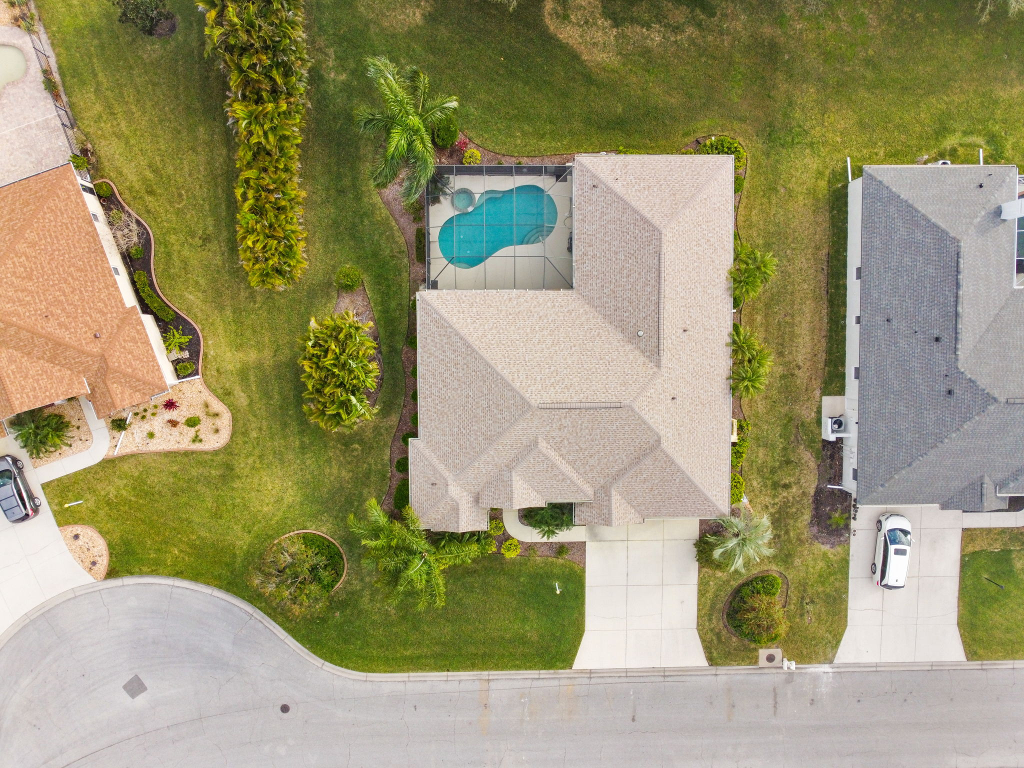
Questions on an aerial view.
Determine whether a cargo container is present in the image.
No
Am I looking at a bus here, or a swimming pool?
swimming pool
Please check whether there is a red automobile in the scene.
No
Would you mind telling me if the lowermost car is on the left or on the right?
right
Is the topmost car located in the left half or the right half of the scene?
left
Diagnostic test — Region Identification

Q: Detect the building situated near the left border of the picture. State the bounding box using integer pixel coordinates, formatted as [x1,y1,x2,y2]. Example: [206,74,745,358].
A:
[0,162,178,440]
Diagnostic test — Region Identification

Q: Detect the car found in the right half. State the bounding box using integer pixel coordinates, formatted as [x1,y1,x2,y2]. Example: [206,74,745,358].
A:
[871,511,915,588]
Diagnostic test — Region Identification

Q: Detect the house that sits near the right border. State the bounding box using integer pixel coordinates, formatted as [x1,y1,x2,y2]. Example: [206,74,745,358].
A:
[843,164,1024,511]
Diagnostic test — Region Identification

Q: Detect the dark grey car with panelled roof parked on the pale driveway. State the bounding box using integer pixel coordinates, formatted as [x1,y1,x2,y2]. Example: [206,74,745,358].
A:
[0,452,39,528]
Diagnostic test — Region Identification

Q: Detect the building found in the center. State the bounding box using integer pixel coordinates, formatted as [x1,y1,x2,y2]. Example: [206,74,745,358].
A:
[408,153,735,532]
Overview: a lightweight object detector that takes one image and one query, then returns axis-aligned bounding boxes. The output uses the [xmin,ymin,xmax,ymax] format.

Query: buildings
[408,153,735,532]
[843,164,1024,511]
[0,162,178,440]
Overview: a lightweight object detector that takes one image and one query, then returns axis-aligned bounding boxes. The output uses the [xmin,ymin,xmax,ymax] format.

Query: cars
[0,452,39,528]
[871,511,915,588]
